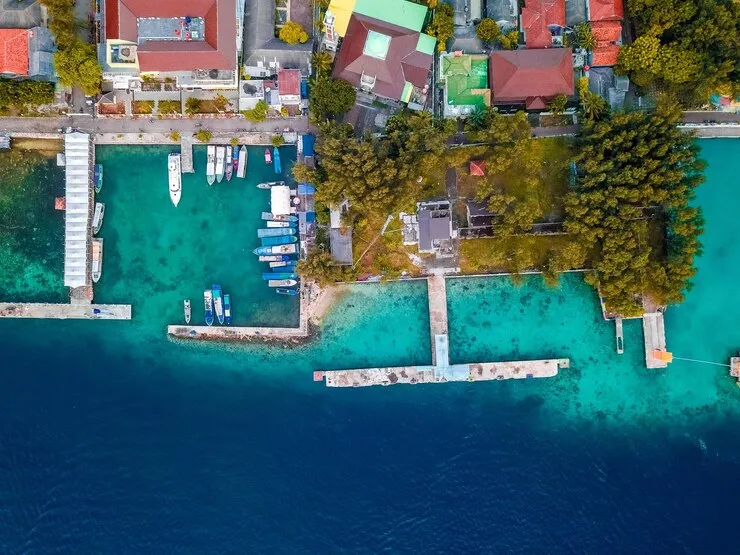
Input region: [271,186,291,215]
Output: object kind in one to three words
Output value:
vessel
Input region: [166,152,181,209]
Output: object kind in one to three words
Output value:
boat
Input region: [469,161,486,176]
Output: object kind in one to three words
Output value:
gazebo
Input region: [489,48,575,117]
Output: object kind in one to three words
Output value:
house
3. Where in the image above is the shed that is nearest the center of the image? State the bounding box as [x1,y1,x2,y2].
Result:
[330,229,353,265]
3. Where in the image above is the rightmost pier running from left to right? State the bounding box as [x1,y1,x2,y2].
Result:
[325,357,559,389]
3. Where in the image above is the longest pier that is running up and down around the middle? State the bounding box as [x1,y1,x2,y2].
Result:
[428,277,449,367]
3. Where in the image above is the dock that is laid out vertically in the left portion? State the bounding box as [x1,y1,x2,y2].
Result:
[181,143,197,173]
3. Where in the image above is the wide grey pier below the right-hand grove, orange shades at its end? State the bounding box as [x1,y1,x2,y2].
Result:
[641,313,668,369]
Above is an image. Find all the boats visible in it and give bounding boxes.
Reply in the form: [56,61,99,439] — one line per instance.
[267,220,298,228]
[272,266,298,273]
[261,236,298,246]
[262,212,298,222]
[257,181,286,188]
[205,145,215,186]
[233,145,239,173]
[94,164,103,194]
[276,288,298,295]
[166,152,181,209]
[183,298,191,324]
[236,145,248,179]
[265,148,272,165]
[269,260,299,267]
[212,283,225,325]
[262,272,297,280]
[259,255,289,262]
[92,202,106,236]
[269,280,297,288]
[215,146,225,184]
[92,238,103,283]
[203,289,215,325]
[251,242,298,254]
[275,147,281,176]
[257,228,297,237]
[223,294,232,324]
[225,146,233,182]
